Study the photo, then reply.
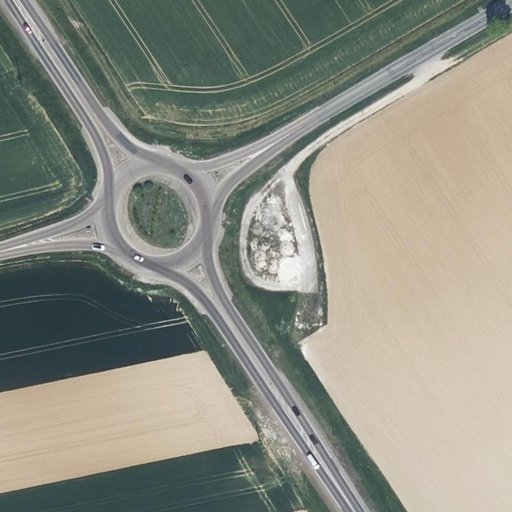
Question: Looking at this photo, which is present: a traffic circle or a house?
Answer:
traffic circle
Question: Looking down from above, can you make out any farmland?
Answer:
Yes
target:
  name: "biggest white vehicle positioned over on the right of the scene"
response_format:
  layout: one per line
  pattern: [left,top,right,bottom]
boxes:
[306,452,320,470]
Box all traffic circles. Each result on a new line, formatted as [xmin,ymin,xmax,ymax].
[98,156,218,274]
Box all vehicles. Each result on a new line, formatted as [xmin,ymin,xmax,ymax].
[134,254,144,262]
[306,452,320,470]
[182,173,194,185]
[22,22,32,34]
[291,405,302,418]
[308,434,319,446]
[92,244,105,250]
